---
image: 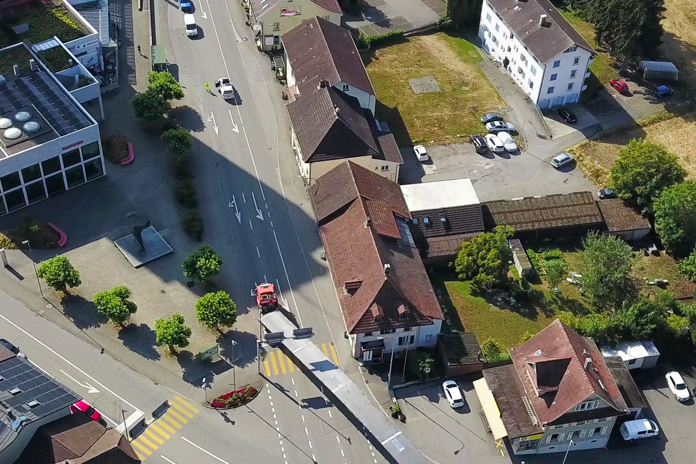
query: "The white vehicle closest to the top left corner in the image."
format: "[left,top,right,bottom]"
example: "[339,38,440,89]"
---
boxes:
[184,12,198,35]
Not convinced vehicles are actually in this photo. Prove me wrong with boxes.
[592,187,621,202]
[179,0,193,10]
[484,134,504,155]
[0,337,30,360]
[442,381,464,411]
[184,12,198,35]
[607,80,631,96]
[650,85,675,99]
[75,399,104,425]
[618,418,660,443]
[413,146,429,165]
[485,119,515,135]
[477,112,504,126]
[254,276,279,325]
[547,152,577,169]
[496,133,518,154]
[555,108,580,125]
[469,134,488,156]
[665,370,689,403]
[216,79,235,99]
